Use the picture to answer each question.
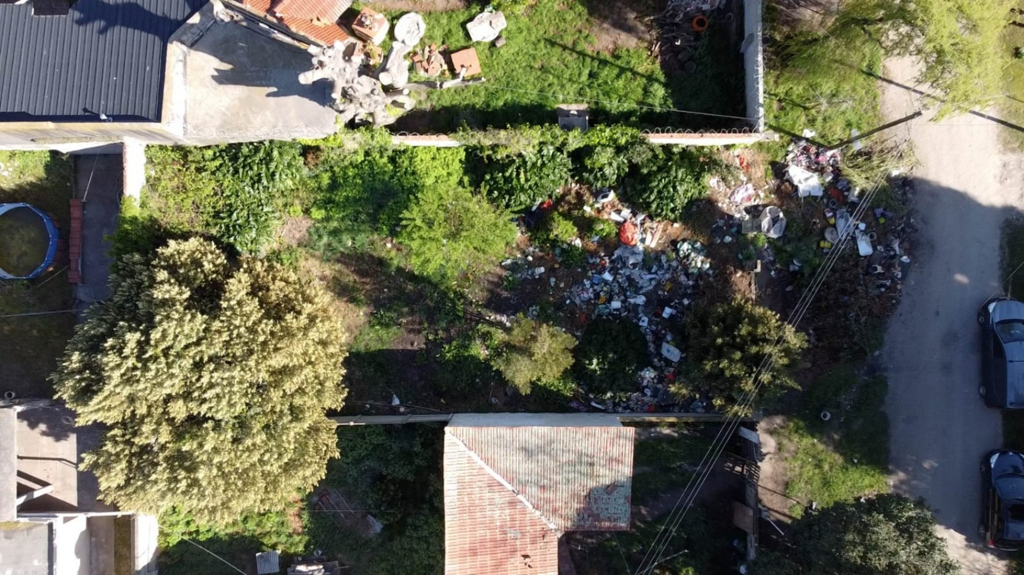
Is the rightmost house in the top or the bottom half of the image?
bottom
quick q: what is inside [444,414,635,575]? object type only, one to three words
house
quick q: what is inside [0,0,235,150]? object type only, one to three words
house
